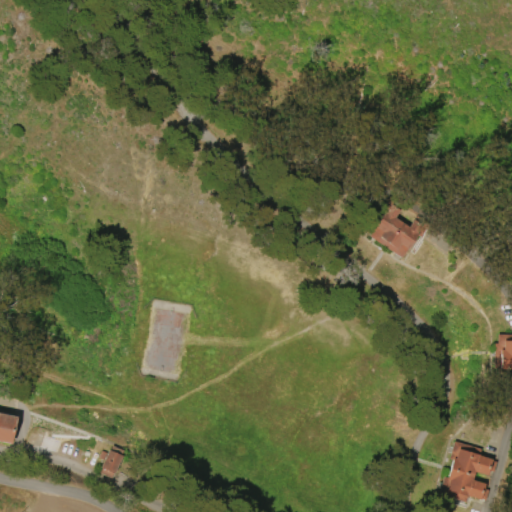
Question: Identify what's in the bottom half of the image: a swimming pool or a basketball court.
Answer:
basketball court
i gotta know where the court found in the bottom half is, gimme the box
[142,300,192,379]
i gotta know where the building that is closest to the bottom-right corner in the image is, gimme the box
[442,440,500,504]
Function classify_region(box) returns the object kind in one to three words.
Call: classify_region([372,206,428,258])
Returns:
house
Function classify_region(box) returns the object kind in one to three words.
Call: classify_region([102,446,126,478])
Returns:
house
